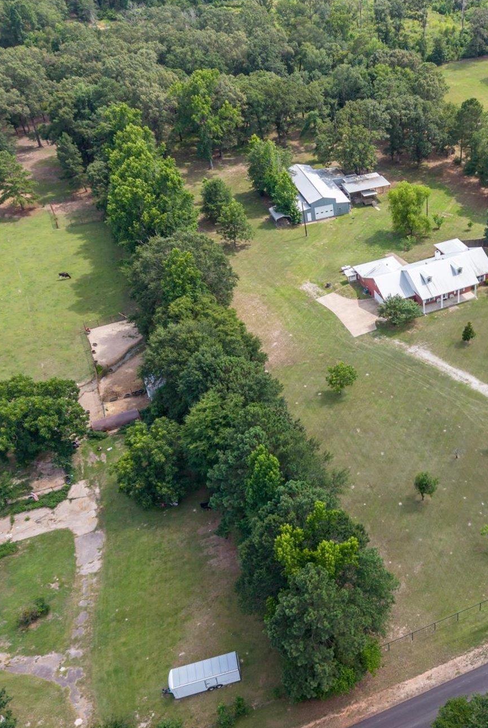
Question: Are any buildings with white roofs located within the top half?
Yes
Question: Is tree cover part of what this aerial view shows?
Yes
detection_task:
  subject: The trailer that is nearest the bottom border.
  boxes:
[158,650,238,697]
